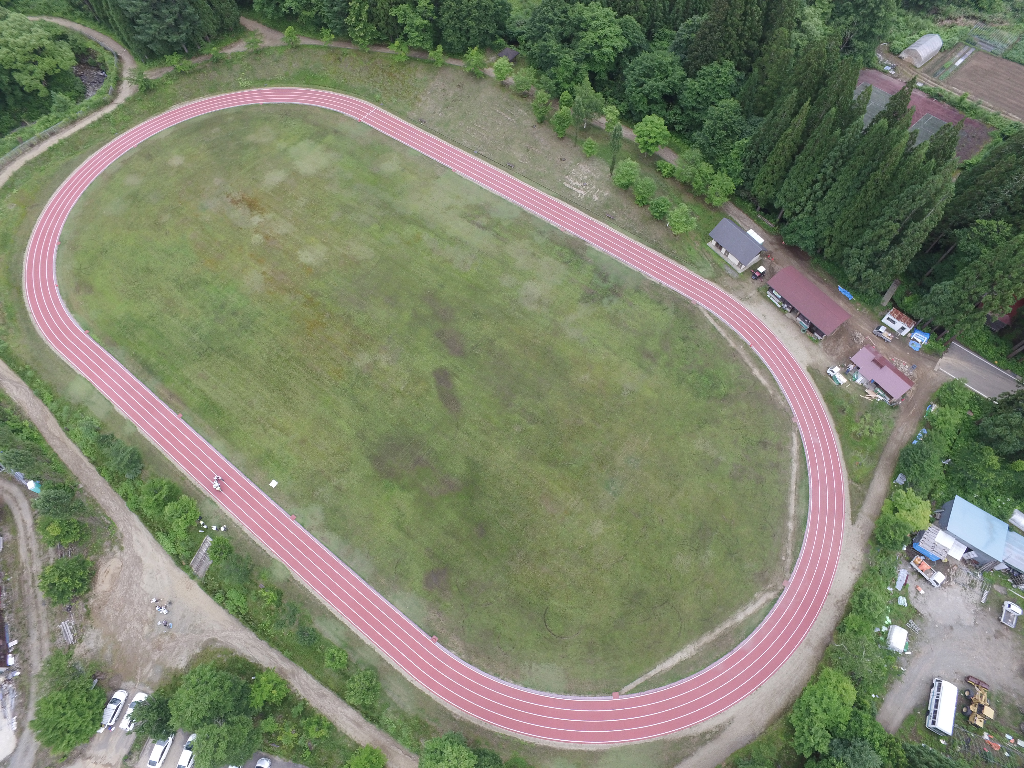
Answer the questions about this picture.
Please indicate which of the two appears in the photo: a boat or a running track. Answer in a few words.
running track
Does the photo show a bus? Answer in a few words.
Yes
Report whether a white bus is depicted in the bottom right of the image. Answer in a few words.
Yes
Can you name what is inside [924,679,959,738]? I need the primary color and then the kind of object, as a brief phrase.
white bus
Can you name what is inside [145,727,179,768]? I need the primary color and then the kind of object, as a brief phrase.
white car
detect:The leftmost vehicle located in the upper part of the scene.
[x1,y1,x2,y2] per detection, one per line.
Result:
[747,265,766,284]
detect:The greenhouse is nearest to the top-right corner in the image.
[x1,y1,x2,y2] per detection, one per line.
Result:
[899,26,947,66]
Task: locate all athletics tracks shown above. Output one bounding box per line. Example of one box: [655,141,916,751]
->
[25,88,845,743]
